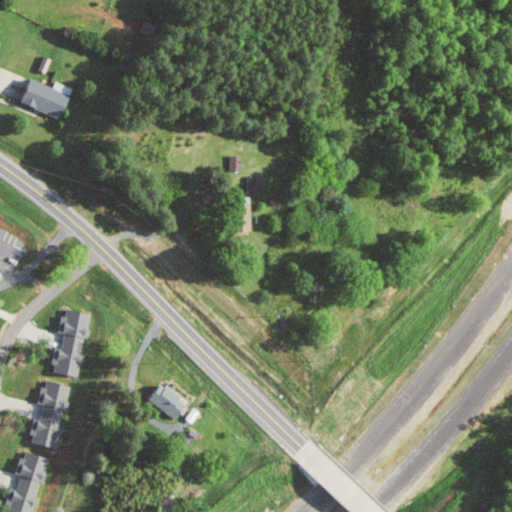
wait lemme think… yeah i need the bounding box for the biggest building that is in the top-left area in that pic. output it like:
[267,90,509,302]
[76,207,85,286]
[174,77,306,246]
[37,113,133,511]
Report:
[20,80,74,122]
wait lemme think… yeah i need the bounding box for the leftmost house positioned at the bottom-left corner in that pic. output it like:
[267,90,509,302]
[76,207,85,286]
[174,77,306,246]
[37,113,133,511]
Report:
[5,454,49,512]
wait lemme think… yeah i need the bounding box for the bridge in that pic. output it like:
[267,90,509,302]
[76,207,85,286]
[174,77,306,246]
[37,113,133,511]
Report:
[294,438,386,512]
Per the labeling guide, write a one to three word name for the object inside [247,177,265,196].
house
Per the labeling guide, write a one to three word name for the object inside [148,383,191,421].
house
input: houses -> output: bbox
[247,177,265,196]
[30,382,70,449]
[5,454,49,512]
[148,383,191,421]
[50,309,90,378]
[244,196,254,234]
[20,80,74,122]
